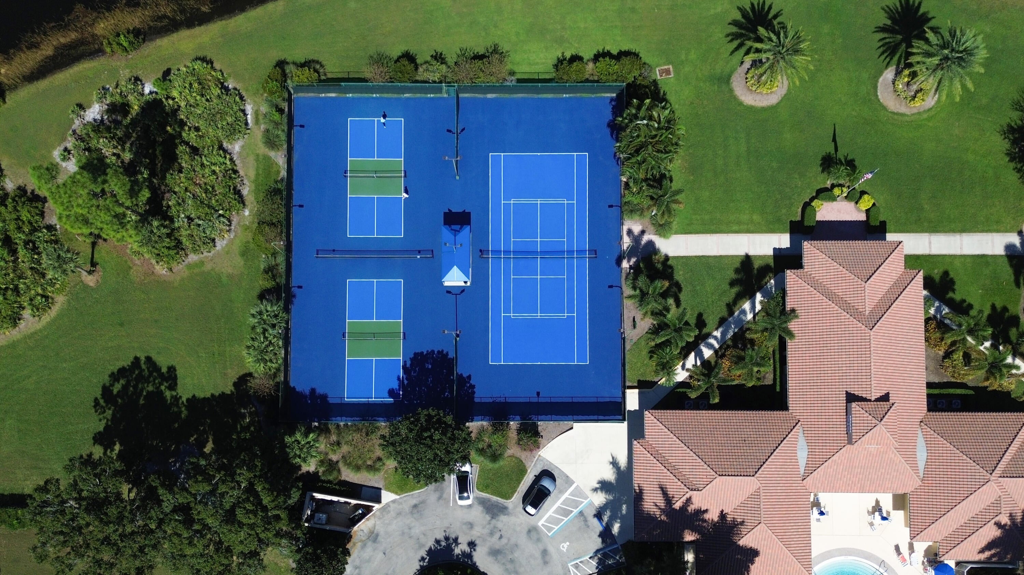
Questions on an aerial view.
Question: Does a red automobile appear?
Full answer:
No, there is no red automobile in the image.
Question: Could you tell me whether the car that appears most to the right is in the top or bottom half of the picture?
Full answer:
You can find the car that appears most to the right in the bottom half.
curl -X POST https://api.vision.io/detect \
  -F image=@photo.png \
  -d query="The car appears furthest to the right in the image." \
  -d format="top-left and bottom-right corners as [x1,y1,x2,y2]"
[523,474,555,518]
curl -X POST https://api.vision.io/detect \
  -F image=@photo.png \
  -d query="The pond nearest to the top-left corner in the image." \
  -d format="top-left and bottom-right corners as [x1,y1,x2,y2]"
[0,0,310,104]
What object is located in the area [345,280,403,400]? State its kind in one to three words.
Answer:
sports court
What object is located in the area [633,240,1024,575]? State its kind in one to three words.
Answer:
building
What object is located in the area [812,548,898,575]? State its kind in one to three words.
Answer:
swimming pool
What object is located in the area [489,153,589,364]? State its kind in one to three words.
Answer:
tennis court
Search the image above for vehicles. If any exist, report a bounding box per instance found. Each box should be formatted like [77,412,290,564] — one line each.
[523,474,555,518]
[455,462,473,506]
